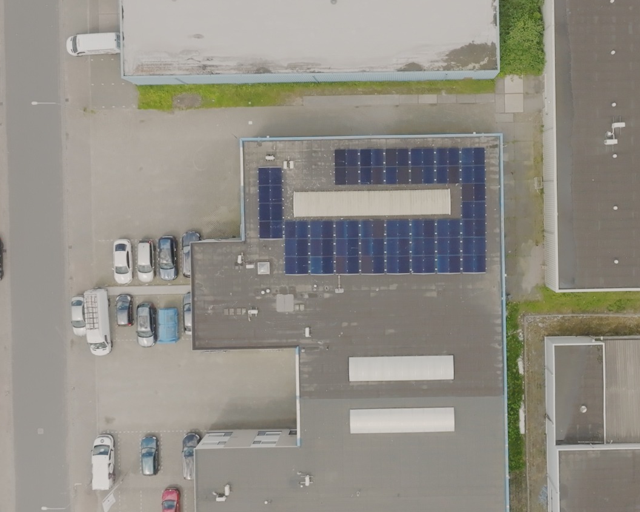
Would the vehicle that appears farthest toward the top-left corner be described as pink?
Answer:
No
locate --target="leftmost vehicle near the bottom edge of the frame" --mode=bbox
[92,433,116,493]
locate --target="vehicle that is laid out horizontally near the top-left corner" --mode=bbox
[68,32,120,55]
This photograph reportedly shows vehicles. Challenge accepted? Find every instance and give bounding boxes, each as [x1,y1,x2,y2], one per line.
[92,433,116,493]
[156,237,177,280]
[134,241,156,281]
[111,240,133,283]
[68,32,120,55]
[159,488,181,512]
[139,435,160,476]
[68,296,83,336]
[177,294,191,336]
[180,433,201,480]
[115,295,134,327]
[177,233,199,276]
[83,290,110,353]
[135,303,158,346]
